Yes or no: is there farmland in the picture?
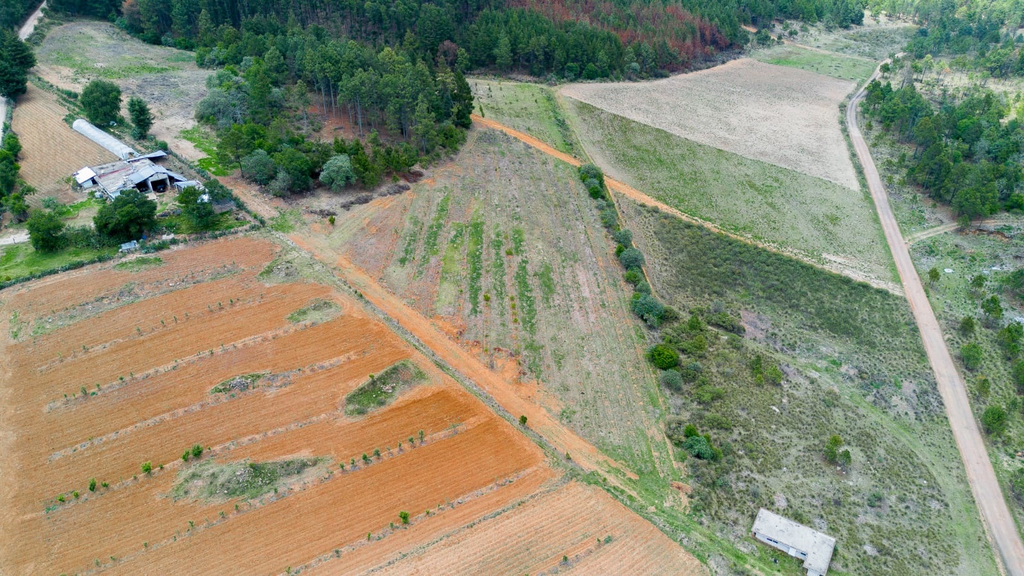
Yes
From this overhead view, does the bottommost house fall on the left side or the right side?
right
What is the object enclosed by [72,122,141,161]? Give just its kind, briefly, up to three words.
greenhouse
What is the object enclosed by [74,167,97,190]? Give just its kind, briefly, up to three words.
shed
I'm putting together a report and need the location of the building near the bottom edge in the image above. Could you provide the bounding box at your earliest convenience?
[750,509,835,576]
